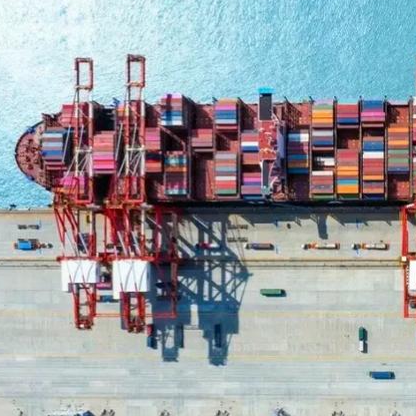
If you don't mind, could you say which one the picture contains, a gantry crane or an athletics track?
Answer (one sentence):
It is a gantry crane that can be seen here.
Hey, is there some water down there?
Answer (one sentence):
Yes, there's water in this view.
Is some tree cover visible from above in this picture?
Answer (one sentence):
No, the scene doesn't show any tree cover.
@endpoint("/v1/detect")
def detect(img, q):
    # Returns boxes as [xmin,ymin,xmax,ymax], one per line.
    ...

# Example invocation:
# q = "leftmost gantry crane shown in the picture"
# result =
[52,57,136,335]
